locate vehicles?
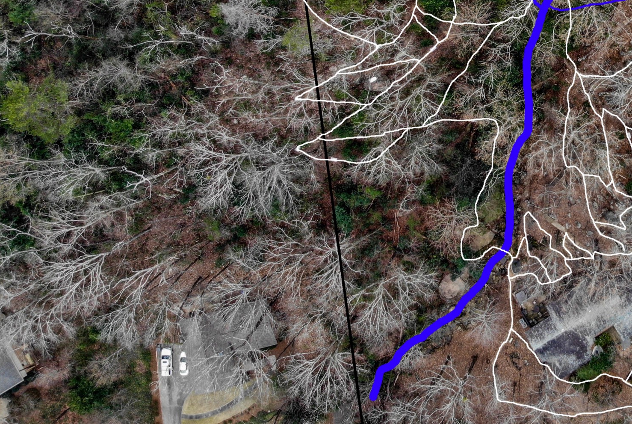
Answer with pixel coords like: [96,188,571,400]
[178,351,190,376]
[160,347,174,377]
